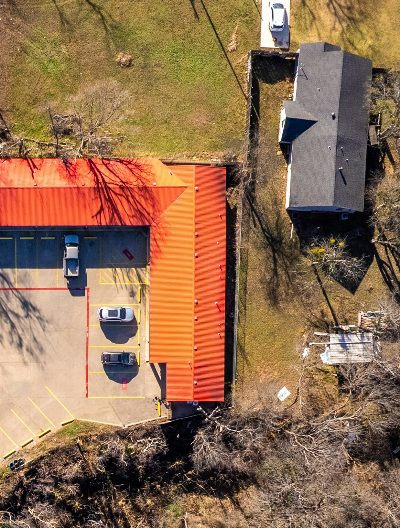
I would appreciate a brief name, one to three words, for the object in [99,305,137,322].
car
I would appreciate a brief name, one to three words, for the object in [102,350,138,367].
car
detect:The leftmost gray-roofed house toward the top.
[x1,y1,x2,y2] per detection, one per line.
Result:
[282,41,372,213]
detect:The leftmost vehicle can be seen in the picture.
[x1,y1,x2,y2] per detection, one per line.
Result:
[64,234,82,277]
